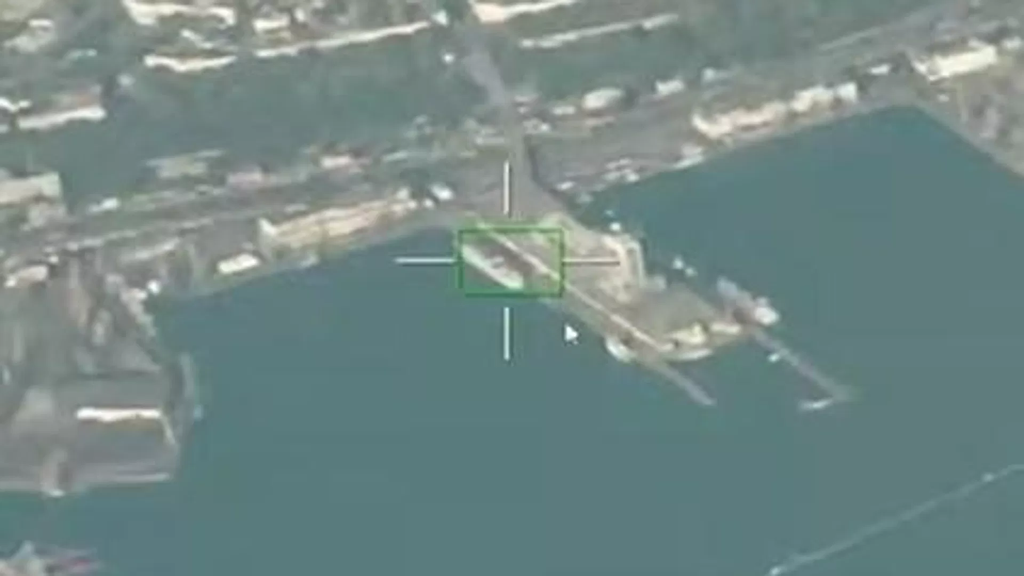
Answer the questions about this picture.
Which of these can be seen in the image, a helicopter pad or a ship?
ship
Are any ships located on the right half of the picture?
Yes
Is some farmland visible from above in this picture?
No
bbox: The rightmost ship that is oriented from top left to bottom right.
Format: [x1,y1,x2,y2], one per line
[715,279,783,328]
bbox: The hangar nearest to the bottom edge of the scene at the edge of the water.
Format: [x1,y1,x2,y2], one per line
[77,374,164,422]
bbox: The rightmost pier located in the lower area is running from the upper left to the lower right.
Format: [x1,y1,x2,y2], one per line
[790,350,851,398]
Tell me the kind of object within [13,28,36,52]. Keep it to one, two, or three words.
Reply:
house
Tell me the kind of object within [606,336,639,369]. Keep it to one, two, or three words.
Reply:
vessel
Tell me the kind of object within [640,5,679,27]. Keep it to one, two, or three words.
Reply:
shed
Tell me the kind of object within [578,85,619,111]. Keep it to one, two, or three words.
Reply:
building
